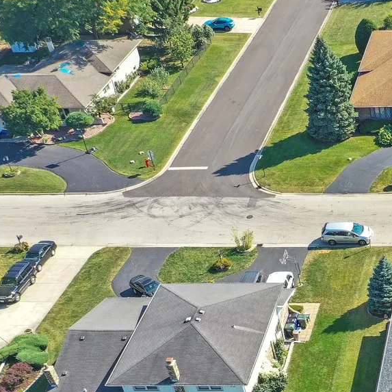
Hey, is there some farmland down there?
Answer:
No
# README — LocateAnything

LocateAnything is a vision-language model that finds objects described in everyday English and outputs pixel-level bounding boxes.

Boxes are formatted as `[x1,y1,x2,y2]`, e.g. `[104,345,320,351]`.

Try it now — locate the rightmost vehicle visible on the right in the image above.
[319,221,374,245]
